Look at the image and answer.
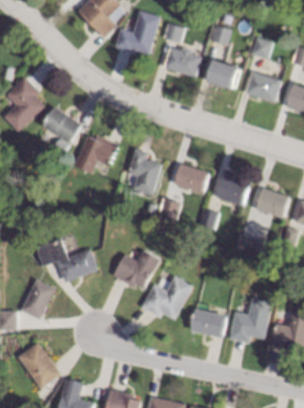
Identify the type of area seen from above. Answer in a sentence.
This looks like a residential area.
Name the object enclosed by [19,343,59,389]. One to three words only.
house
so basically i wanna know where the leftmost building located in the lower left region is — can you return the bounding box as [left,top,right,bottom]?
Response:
[0,312,20,330]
